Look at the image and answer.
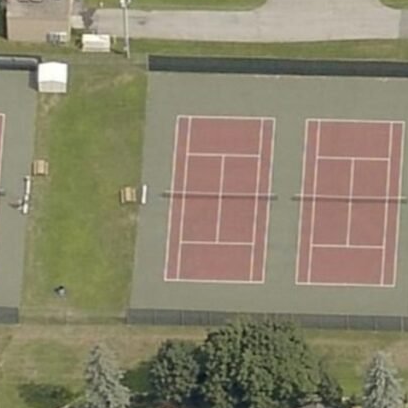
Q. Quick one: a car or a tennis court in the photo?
tennis court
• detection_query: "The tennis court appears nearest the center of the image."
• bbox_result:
[165,116,275,283]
